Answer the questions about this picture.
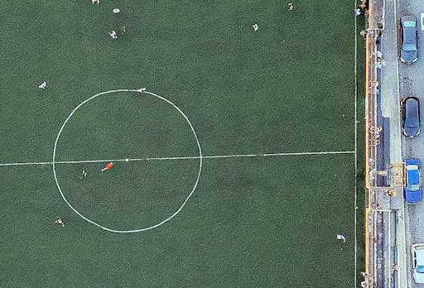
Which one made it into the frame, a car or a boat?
car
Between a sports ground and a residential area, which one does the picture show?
sports ground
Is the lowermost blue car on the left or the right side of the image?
right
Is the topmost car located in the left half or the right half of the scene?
right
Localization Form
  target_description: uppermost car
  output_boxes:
[398,16,420,64]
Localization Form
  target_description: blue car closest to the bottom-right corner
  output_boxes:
[402,159,424,204]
